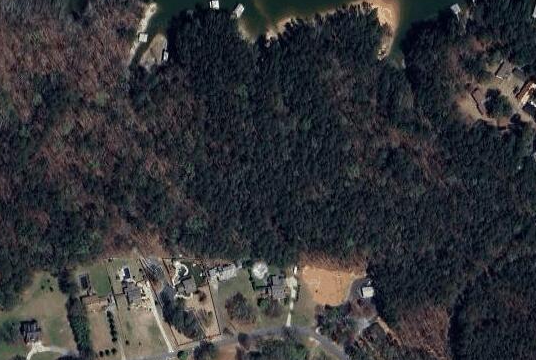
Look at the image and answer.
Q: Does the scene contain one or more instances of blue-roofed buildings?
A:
No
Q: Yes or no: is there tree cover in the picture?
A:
Yes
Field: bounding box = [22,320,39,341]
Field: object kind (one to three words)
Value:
house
